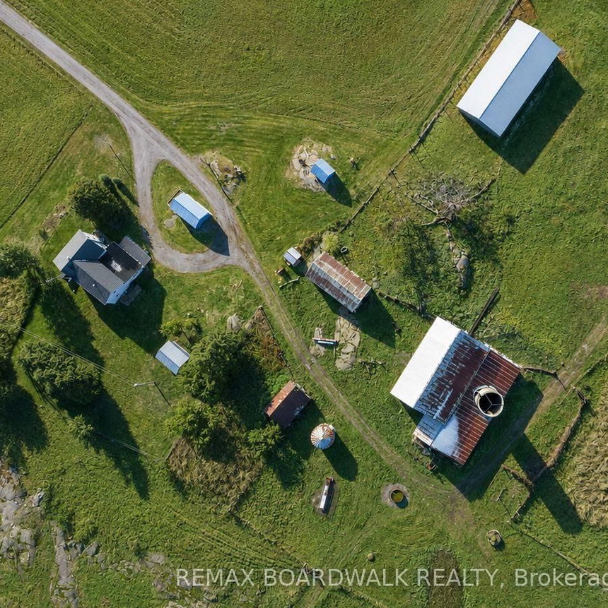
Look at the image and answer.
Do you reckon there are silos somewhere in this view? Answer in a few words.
Yes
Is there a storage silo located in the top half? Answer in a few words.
No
